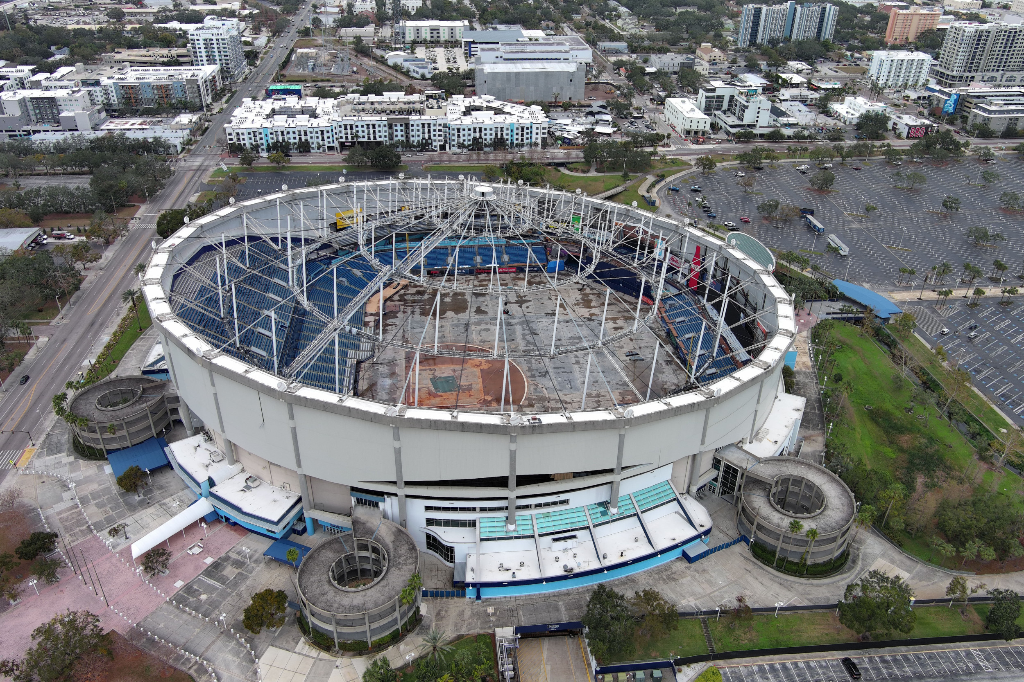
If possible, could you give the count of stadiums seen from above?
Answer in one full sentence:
The photo contains exactly 1 stadium.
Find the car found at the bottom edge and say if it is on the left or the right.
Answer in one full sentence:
The car found at the bottom edge sits on the right side.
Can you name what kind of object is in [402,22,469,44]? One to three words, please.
building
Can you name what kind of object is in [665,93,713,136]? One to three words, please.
building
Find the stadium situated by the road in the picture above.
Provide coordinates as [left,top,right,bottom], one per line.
[138,172,799,539]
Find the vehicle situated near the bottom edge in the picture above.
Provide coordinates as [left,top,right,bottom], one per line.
[842,661,862,682]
